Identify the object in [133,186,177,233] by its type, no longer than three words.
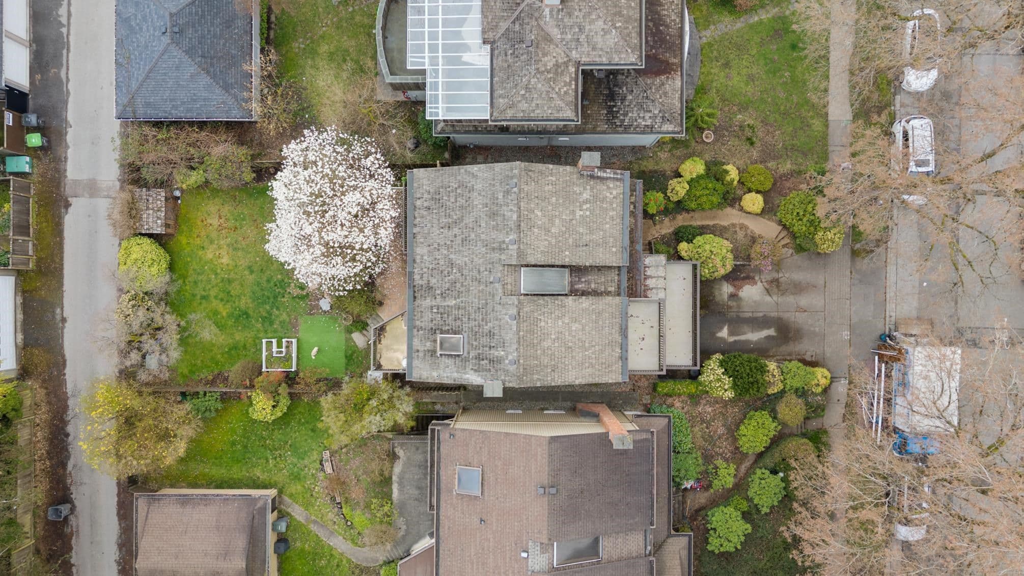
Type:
shed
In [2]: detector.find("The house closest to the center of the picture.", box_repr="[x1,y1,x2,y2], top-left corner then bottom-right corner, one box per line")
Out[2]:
[406,151,643,397]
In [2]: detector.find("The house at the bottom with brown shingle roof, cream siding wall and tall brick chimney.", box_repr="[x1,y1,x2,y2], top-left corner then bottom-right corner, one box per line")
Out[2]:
[434,403,692,576]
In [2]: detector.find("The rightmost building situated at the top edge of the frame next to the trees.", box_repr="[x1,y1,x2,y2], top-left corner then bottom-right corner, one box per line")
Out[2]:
[432,0,689,148]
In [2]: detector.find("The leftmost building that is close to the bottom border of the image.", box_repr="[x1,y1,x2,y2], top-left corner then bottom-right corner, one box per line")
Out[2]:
[133,489,278,576]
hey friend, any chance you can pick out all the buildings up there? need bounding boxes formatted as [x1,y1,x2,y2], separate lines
[113,0,267,127]
[406,151,643,397]
[133,186,177,233]
[432,0,689,148]
[0,270,18,381]
[434,403,692,576]
[133,489,278,576]
[0,0,30,91]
